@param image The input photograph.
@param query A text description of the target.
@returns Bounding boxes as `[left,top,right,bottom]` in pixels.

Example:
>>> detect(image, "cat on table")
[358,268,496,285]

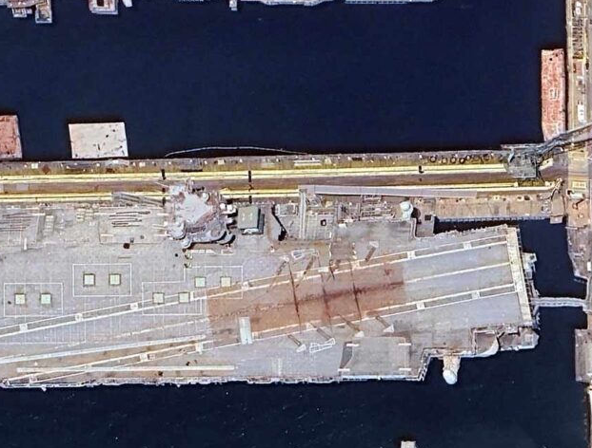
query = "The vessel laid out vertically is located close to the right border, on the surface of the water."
[540,46,567,140]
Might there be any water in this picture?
Yes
